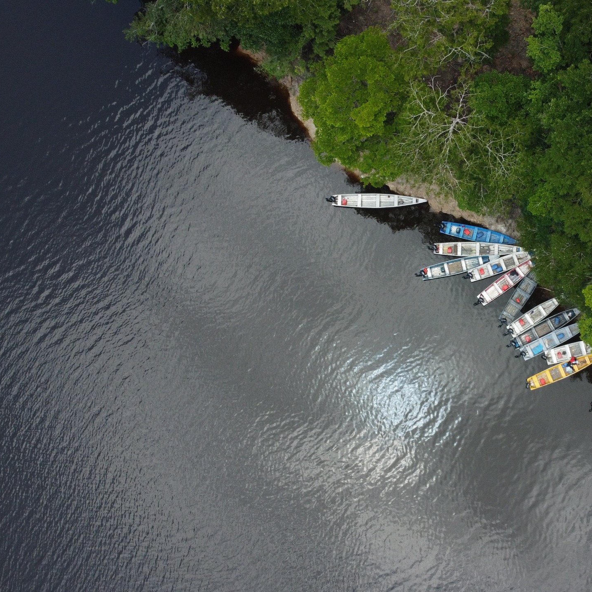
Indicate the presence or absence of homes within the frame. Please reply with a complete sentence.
No, no home is visible in the scene.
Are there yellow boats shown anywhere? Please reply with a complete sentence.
Yes, looking at the shot, I can spot a yellow boat.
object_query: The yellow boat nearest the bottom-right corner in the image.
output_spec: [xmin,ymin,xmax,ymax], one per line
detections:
[526,356,592,394]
